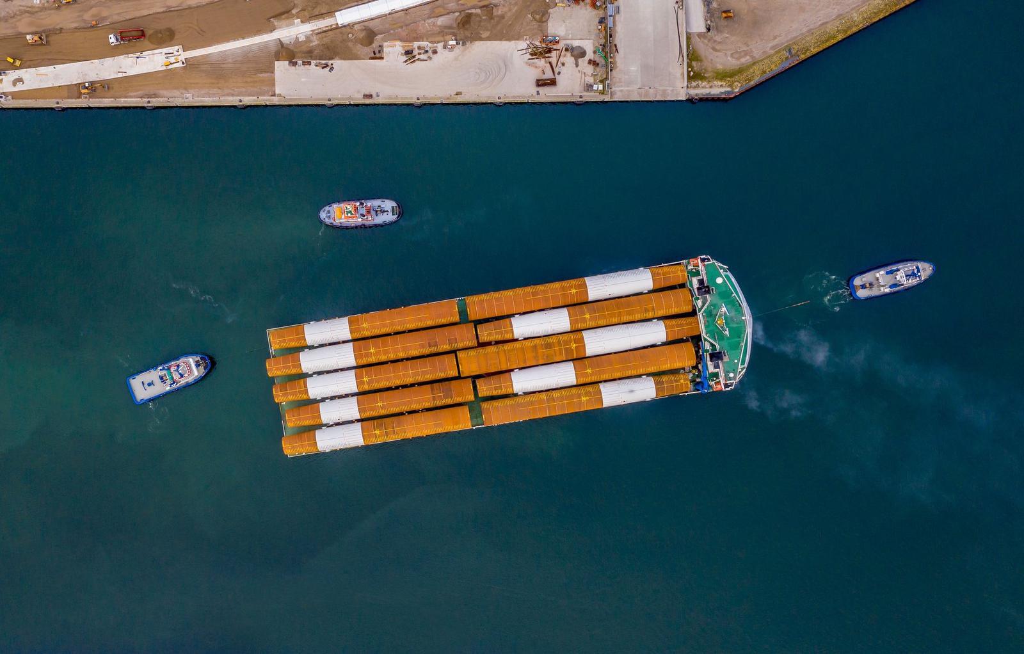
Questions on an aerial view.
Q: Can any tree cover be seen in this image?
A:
No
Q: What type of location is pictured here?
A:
port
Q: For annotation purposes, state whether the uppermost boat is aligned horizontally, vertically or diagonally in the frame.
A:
horizontally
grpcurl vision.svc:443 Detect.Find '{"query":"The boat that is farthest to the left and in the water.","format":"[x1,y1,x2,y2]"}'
[126,354,212,405]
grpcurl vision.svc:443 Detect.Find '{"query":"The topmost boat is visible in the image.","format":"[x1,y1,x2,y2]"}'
[319,199,402,230]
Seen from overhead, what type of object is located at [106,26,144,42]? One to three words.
vehicle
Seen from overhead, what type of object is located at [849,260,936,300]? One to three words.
boat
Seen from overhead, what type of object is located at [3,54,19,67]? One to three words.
vehicle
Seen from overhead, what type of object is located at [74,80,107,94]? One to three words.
work vehicle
